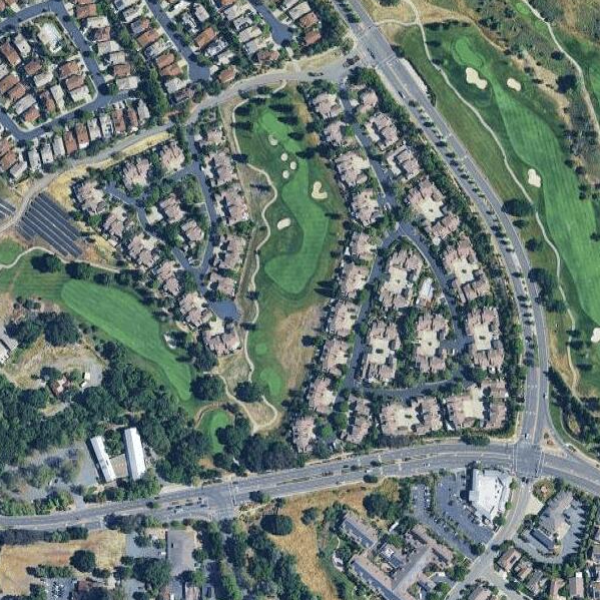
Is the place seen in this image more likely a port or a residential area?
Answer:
residential area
